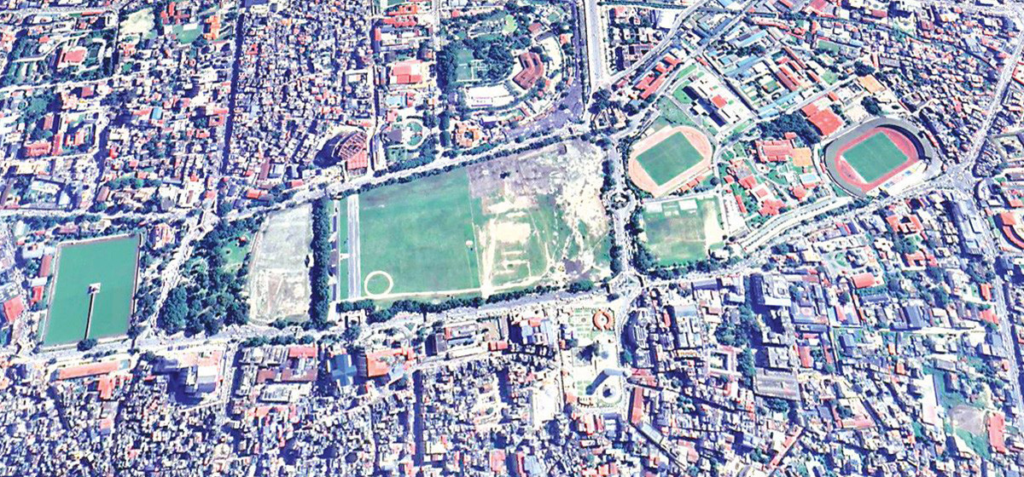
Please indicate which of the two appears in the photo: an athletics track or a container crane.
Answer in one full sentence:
It is an athletics track that can be seen here.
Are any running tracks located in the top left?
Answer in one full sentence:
No, there's no running track to be seen in the top left.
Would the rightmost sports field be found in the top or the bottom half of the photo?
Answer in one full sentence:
The rightmost sports field sits in the top half of the picture.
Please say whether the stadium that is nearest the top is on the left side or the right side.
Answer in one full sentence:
It is on the right.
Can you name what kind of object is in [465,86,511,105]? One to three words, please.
building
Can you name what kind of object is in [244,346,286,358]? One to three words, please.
building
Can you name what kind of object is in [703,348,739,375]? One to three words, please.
house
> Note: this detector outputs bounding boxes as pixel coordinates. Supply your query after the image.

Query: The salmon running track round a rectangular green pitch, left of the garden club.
[627,123,716,193]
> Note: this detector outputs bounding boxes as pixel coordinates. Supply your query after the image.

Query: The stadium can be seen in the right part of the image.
[819,114,939,202]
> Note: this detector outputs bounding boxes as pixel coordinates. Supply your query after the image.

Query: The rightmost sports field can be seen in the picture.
[842,131,907,182]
